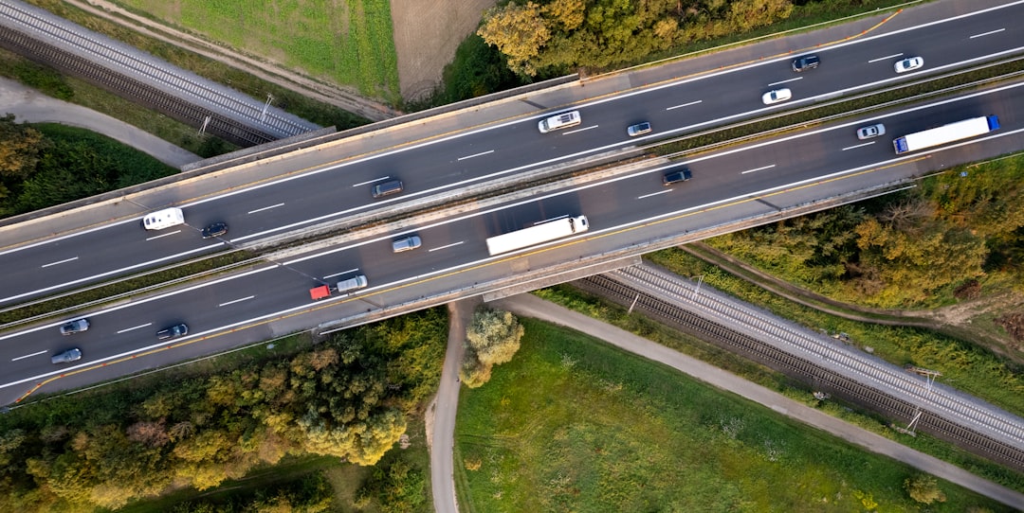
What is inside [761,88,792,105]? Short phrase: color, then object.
white car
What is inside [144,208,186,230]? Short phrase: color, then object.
white camper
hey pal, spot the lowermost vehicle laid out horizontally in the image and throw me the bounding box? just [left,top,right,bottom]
[51,347,83,364]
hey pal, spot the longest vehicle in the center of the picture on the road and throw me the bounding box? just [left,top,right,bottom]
[487,216,587,256]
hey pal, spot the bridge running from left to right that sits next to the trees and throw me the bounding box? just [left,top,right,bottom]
[0,69,917,337]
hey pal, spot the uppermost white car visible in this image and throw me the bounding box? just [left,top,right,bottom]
[892,57,923,73]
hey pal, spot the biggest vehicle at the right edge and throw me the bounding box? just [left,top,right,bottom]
[895,114,1002,154]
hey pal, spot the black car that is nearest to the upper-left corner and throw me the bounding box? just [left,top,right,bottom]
[201,221,229,237]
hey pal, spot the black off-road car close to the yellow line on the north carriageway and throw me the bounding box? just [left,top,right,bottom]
[790,54,819,71]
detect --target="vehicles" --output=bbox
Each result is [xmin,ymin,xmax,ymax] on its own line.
[51,347,83,364]
[373,180,404,197]
[626,121,652,136]
[393,235,422,252]
[337,275,368,292]
[60,318,91,335]
[201,221,229,237]
[895,114,1002,154]
[854,123,884,139]
[144,208,186,230]
[539,110,582,132]
[157,324,189,341]
[892,57,923,73]
[790,54,819,71]
[662,167,691,184]
[487,216,587,256]
[761,88,792,105]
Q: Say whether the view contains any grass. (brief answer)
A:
Yes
